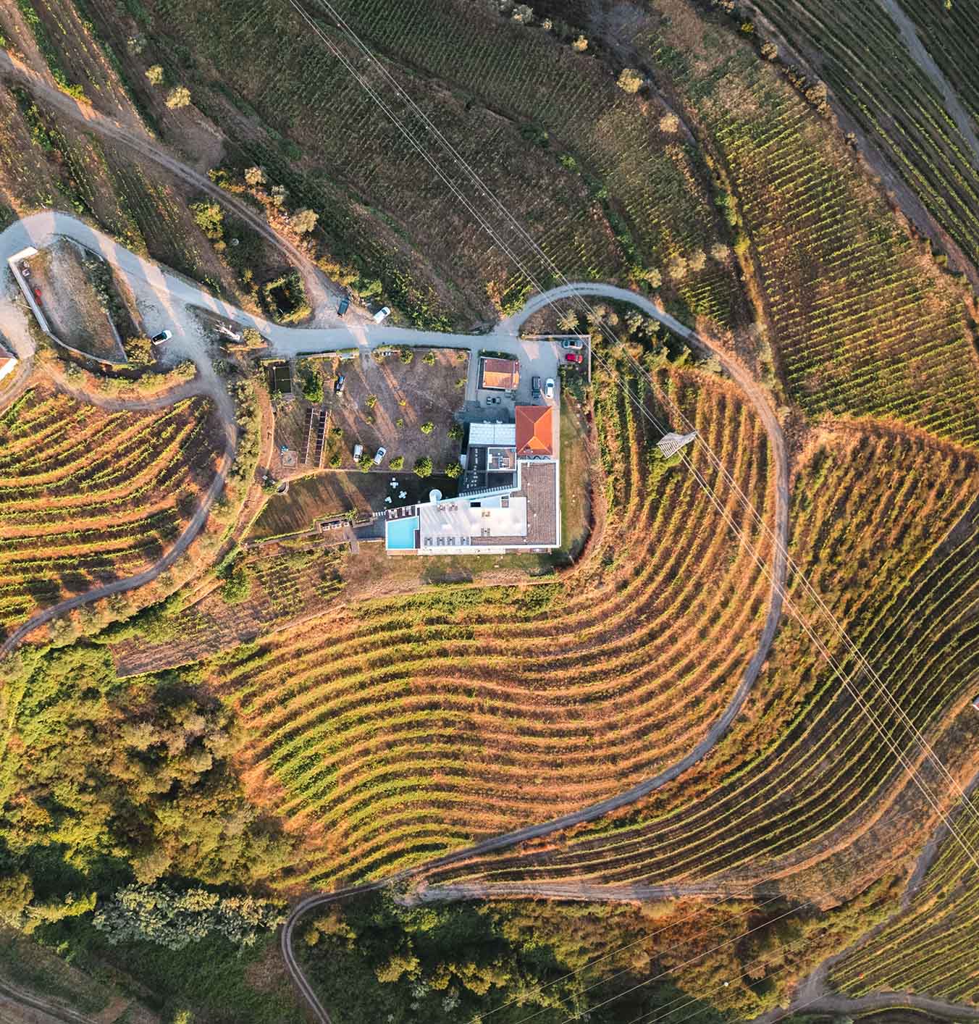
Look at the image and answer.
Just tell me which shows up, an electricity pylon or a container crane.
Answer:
electricity pylon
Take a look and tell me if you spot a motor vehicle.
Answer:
Yes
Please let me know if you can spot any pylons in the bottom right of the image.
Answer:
No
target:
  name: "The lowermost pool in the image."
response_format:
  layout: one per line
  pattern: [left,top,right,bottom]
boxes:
[389,516,417,547]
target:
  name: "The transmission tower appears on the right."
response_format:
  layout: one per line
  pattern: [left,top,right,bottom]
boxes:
[647,428,701,464]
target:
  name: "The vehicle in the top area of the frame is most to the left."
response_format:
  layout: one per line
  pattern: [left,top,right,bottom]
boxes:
[151,329,171,344]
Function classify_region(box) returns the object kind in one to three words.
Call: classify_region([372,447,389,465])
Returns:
car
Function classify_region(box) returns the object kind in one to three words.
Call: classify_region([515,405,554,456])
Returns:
house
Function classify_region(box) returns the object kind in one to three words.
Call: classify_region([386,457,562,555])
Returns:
building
